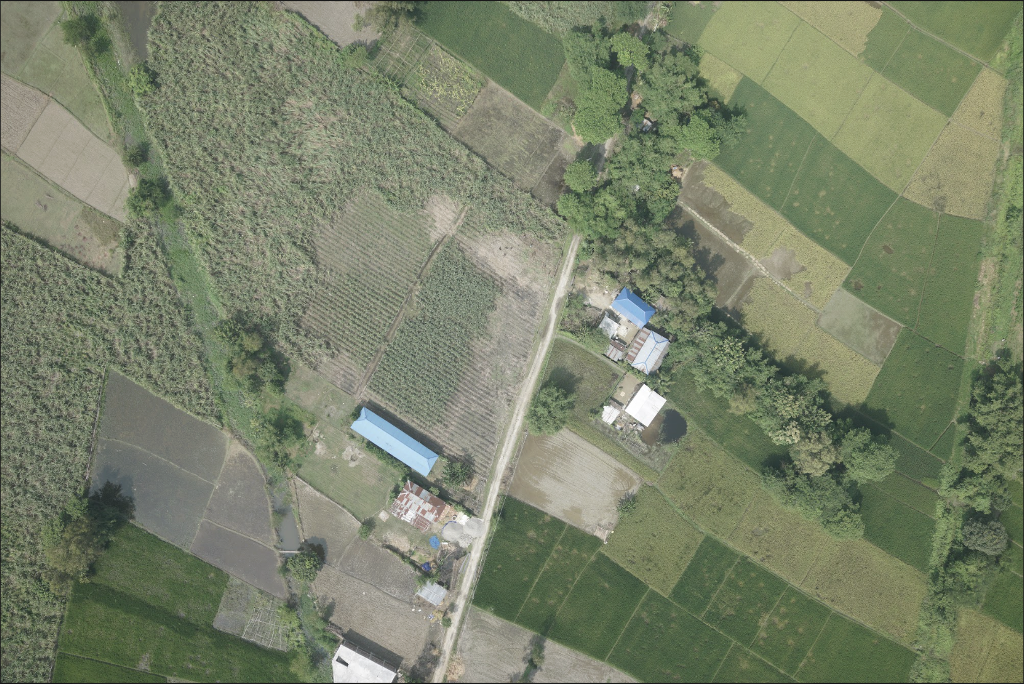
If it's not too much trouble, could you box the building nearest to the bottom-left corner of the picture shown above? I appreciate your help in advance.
[333,636,400,684]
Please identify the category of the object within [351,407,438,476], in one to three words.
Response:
building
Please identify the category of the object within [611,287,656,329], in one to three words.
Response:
house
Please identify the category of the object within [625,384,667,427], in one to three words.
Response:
house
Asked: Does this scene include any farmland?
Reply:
Yes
